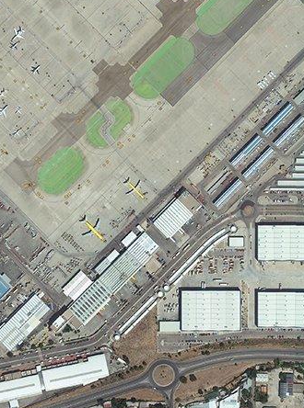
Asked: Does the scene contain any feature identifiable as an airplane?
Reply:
Yes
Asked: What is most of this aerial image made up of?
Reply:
paved ground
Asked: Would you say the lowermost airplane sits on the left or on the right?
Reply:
left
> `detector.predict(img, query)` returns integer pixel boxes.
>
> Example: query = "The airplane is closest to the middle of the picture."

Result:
[123,177,144,198]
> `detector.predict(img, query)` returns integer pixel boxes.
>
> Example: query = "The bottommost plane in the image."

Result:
[80,215,104,241]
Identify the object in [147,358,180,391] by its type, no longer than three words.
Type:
roundabout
